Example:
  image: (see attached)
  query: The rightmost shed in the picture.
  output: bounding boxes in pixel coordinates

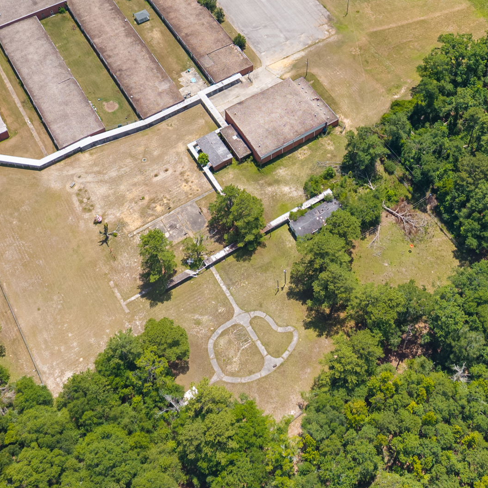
[289,198,345,241]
